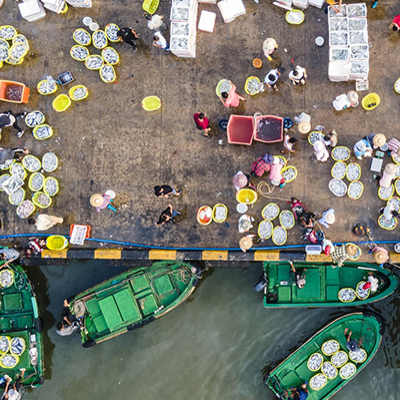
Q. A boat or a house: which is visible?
boat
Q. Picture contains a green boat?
Yes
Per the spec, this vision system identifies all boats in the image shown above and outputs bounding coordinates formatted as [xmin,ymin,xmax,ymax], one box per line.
[61,265,201,353]
[0,259,44,389]
[267,312,385,400]
[252,264,399,308]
